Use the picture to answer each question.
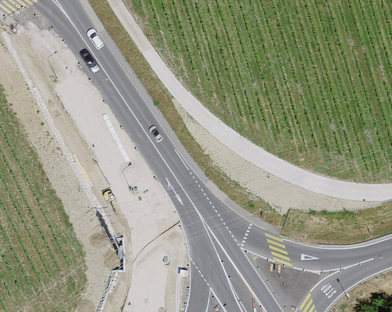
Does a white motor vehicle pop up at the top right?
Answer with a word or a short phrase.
No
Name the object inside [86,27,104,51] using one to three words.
car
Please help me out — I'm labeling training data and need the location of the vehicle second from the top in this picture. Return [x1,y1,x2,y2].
[79,48,98,72]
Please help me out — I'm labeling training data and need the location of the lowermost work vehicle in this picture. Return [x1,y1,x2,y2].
[103,188,116,212]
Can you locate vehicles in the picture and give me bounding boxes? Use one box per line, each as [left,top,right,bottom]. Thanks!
[86,27,104,51]
[103,188,116,212]
[79,48,98,72]
[148,124,163,144]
